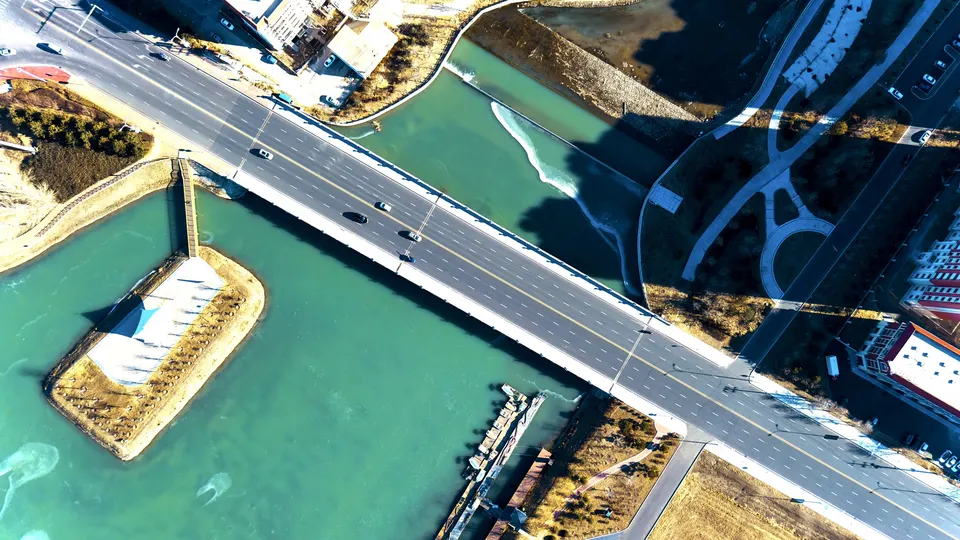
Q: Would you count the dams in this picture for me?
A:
one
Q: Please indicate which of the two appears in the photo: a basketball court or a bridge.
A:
bridge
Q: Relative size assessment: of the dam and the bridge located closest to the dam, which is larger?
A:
the bridge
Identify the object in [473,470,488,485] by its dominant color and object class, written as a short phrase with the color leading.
white boat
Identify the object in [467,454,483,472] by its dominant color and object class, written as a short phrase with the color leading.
white boat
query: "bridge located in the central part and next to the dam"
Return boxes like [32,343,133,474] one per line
[229,100,656,396]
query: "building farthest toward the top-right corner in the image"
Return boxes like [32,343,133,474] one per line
[905,191,960,318]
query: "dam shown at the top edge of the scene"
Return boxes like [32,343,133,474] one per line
[442,4,705,191]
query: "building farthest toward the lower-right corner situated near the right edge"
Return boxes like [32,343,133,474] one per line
[841,312,960,429]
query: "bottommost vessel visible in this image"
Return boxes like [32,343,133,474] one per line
[432,480,476,540]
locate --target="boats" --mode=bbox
[473,470,488,485]
[499,382,518,398]
[510,395,521,403]
[517,399,530,414]
[498,408,512,420]
[467,454,483,472]
[503,400,518,413]
[488,446,501,461]
[490,418,506,431]
[483,427,501,442]
[461,465,475,483]
[475,442,490,455]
